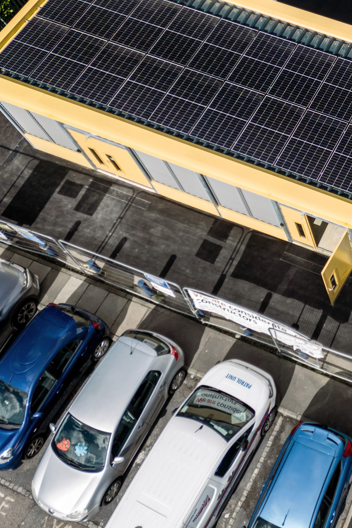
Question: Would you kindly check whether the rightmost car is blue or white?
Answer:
blue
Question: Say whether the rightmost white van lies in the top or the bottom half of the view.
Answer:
bottom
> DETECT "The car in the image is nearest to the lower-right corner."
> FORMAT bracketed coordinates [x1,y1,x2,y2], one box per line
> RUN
[242,418,352,528]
